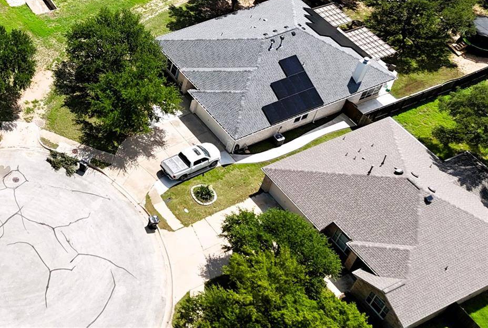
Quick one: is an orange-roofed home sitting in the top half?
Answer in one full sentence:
No, no orange-roofed home appears in the top half.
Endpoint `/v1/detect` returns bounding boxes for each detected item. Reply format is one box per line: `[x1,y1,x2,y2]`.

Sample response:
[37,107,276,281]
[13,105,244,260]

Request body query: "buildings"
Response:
[152,0,399,156]
[258,116,488,328]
